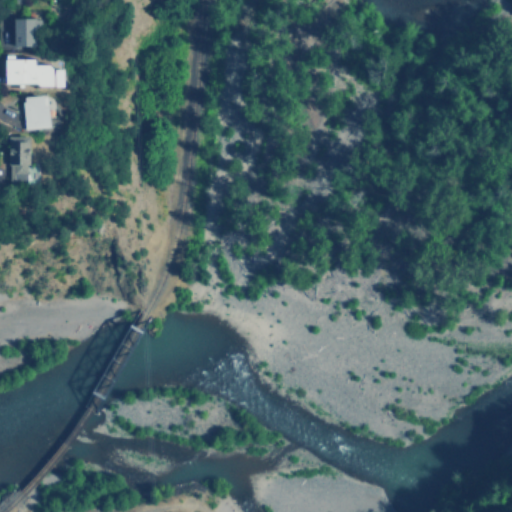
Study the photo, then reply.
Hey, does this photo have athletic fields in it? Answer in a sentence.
No, there appears to be no athletic field in this shot.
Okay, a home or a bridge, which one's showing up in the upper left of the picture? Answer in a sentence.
Visible in the upper left of the picture is a home.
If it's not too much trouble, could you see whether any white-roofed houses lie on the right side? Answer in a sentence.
No, no white-roofed house can be made out on the right side.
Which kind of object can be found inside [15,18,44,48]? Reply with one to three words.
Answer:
house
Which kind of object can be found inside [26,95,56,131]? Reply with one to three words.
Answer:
house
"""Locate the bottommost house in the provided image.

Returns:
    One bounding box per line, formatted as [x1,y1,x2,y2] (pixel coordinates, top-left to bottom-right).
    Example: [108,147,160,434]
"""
[10,137,40,182]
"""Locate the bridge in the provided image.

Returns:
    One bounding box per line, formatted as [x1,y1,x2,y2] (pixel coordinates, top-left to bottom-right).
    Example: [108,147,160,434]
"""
[16,308,154,498]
